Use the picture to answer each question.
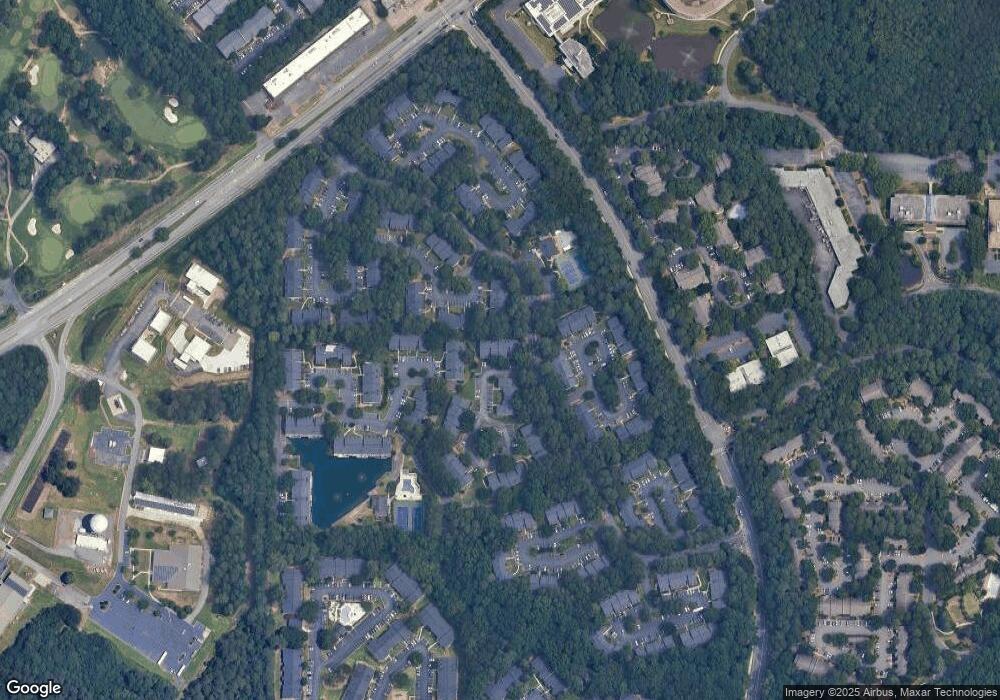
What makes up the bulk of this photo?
trees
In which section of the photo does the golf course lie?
top left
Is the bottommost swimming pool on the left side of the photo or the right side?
left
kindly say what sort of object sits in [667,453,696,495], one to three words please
building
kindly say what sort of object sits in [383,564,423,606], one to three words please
building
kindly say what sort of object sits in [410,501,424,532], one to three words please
tennis court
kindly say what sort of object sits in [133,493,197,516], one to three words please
shed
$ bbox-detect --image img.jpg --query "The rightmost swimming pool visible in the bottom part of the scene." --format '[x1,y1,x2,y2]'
[396,473,422,500]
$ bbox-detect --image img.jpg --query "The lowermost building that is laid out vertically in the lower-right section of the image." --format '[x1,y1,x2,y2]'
[895,626,908,678]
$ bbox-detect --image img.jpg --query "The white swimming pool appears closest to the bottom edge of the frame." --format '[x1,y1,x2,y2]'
[328,599,368,628]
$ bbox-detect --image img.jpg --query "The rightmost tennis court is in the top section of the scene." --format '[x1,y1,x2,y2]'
[556,252,587,288]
